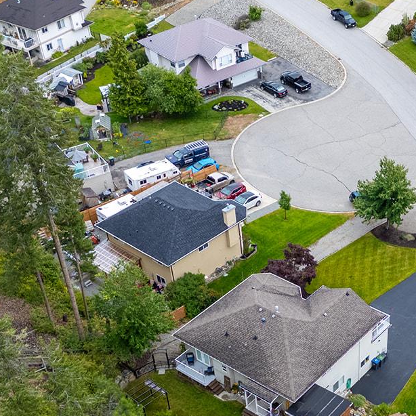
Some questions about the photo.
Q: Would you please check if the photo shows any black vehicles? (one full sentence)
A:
Yes, a black vehicle is visible in the scene.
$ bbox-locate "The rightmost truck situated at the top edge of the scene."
[327,4,357,28]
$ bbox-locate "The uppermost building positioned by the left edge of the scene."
[0,0,93,67]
